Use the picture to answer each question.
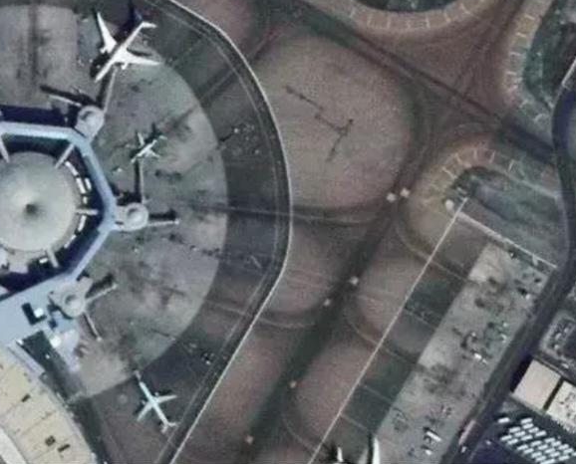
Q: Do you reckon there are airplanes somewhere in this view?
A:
Yes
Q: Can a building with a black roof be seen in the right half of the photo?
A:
No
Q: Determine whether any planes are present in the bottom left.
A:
Yes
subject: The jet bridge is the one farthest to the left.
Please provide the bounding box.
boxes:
[47,95,82,109]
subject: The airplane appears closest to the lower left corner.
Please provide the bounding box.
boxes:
[137,382,176,429]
